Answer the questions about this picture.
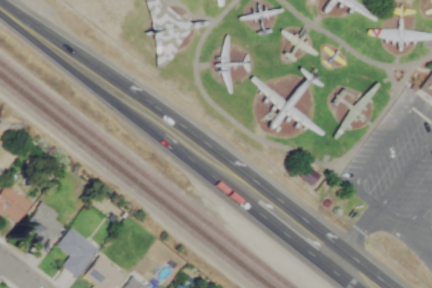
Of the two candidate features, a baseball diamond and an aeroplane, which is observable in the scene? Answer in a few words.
aeroplane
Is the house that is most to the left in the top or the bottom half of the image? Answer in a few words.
bottom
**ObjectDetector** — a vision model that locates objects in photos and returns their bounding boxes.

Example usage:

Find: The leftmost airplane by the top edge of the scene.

[146,0,210,67]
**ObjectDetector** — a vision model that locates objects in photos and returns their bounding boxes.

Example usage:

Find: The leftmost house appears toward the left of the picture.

[0,187,32,225]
